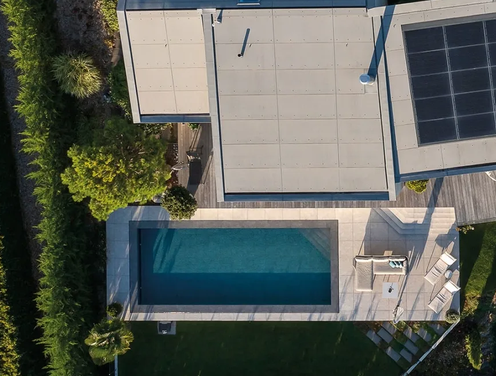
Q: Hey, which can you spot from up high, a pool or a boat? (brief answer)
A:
pool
